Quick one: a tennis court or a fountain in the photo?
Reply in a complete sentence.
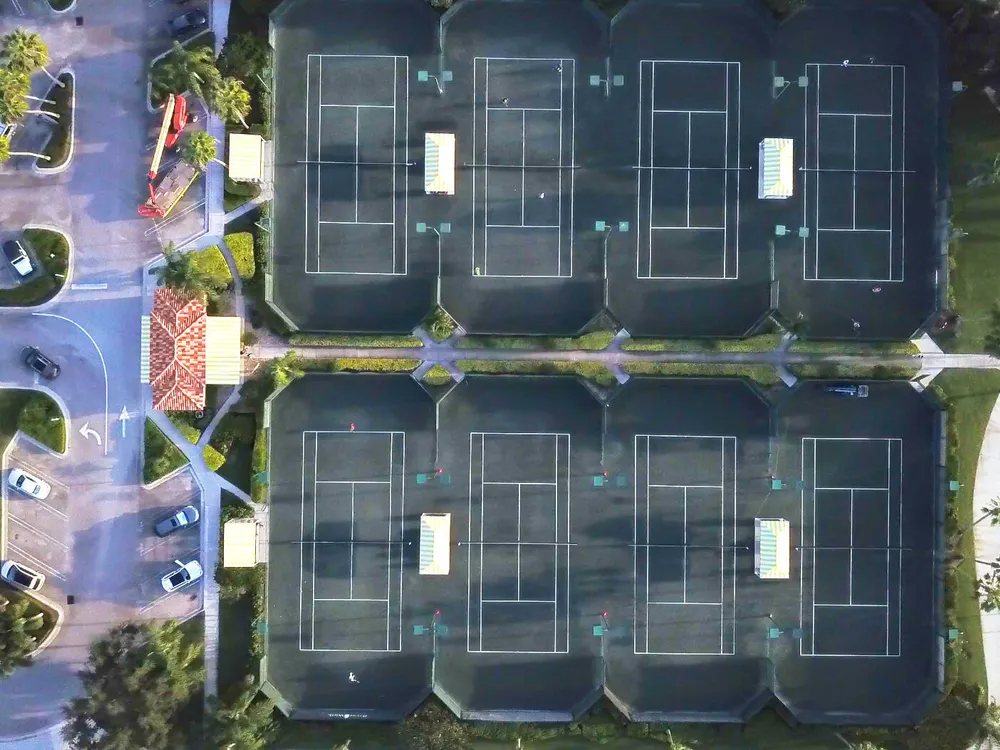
Looking from above, you can make out a tennis court.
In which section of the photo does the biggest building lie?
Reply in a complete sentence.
The biggest building appears toward the left of the photo.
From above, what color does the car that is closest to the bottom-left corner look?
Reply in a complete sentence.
The car that is closest to the bottom-left corner is white.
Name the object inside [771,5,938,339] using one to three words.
tennis court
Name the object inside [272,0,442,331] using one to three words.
tennis court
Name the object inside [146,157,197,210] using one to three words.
trailer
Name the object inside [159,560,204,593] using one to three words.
car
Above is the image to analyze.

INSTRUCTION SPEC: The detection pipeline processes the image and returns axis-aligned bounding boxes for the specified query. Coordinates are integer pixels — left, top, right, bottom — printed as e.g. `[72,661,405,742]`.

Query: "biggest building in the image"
[141,288,249,411]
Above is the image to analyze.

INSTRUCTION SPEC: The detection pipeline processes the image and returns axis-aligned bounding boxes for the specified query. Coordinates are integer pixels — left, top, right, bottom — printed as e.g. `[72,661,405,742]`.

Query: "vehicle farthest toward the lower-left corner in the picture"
[0,559,47,593]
